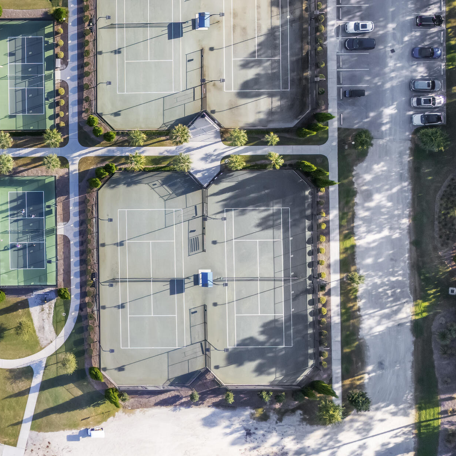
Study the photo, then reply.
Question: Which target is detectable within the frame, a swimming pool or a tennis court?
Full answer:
This aerial view contains a tennis court.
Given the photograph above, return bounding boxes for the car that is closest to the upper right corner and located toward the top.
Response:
[414,13,443,27]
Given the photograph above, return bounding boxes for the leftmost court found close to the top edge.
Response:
[0,19,55,130]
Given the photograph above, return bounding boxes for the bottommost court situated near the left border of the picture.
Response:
[0,176,57,286]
